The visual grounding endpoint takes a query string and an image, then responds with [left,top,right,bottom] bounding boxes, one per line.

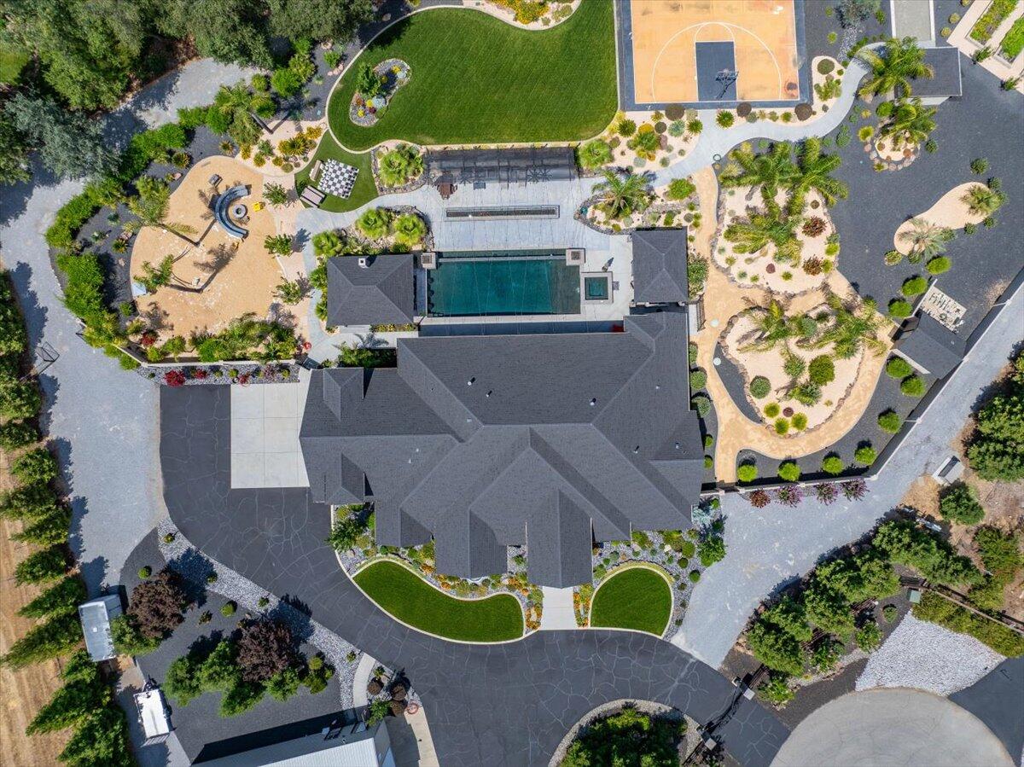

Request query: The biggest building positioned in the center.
[299,313,703,588]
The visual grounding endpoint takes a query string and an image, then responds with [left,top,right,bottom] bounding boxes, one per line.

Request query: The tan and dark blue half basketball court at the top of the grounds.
[616,0,812,111]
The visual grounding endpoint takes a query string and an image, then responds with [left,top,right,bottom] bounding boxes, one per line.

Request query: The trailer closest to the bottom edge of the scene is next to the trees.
[133,676,173,745]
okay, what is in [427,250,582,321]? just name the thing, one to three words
swimming pool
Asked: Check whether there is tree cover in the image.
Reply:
Yes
